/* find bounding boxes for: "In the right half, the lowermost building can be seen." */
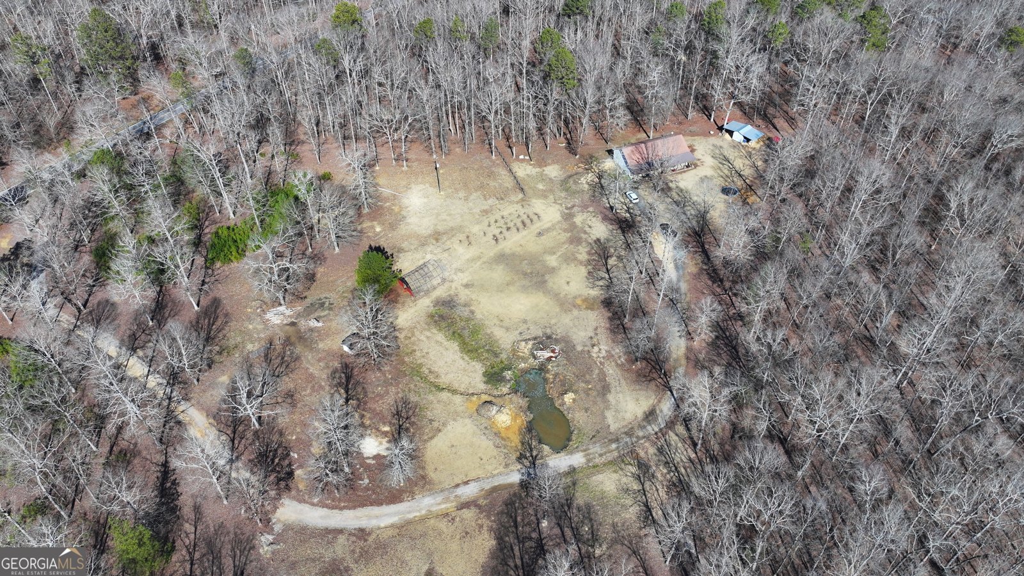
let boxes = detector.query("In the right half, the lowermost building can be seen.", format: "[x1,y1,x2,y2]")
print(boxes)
[613,136,698,180]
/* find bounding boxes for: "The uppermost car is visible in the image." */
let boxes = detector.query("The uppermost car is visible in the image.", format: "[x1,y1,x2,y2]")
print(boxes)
[626,191,641,203]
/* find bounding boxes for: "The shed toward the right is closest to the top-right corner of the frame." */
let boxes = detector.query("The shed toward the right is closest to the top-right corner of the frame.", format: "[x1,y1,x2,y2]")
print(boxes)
[721,120,762,146]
